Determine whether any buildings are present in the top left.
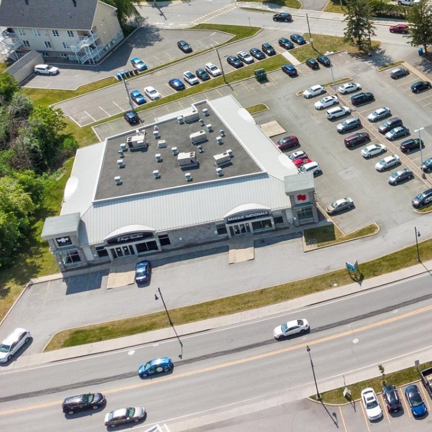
Yes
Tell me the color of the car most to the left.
white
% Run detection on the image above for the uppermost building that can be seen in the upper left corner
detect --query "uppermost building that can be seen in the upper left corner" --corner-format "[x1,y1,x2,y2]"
[0,0,126,66]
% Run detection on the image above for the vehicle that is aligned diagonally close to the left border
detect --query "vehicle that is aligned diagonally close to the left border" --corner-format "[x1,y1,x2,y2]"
[0,330,30,362]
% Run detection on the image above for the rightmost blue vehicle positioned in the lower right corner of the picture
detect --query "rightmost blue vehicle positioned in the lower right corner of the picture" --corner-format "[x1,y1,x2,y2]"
[404,385,428,417]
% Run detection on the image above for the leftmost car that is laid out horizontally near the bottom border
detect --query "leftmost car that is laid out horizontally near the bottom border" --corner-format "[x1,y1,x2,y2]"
[57,392,108,416]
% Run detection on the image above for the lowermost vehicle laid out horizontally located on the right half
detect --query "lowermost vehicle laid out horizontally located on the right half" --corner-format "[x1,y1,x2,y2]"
[273,320,311,340]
